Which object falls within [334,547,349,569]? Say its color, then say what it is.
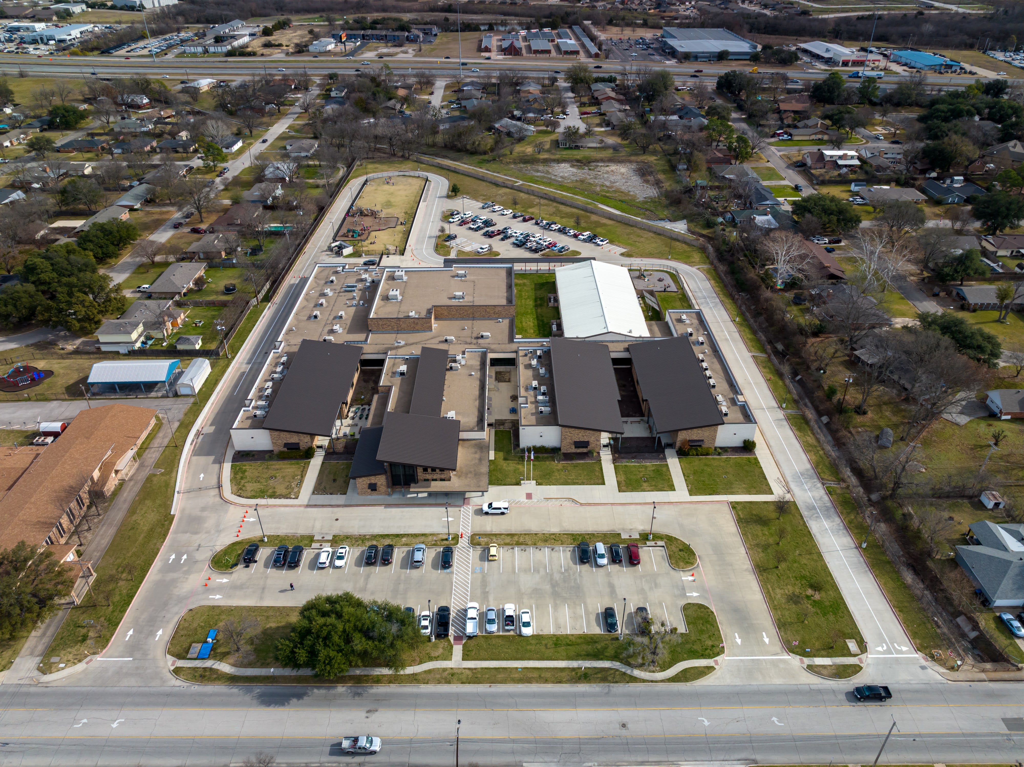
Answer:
white car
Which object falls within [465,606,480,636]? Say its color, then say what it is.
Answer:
white vehicle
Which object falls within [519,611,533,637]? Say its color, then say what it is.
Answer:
white car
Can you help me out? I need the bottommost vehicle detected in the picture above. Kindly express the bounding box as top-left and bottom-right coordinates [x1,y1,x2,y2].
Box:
[340,736,382,755]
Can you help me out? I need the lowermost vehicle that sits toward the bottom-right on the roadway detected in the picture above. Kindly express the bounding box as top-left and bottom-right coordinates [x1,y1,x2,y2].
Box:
[852,685,895,703]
